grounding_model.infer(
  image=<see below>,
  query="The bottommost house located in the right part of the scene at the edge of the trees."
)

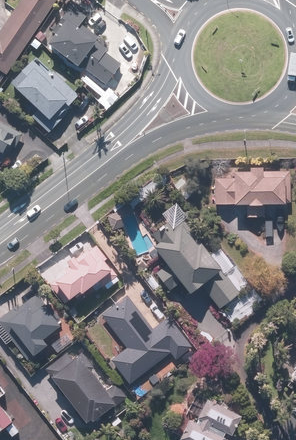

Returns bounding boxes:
[180,400,242,440]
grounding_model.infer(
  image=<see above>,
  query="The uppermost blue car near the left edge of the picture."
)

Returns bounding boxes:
[11,202,26,215]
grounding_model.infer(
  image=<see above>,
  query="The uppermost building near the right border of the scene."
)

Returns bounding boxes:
[214,168,292,218]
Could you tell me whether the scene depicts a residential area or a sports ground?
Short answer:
residential area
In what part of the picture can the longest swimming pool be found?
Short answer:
center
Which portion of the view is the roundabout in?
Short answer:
top right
